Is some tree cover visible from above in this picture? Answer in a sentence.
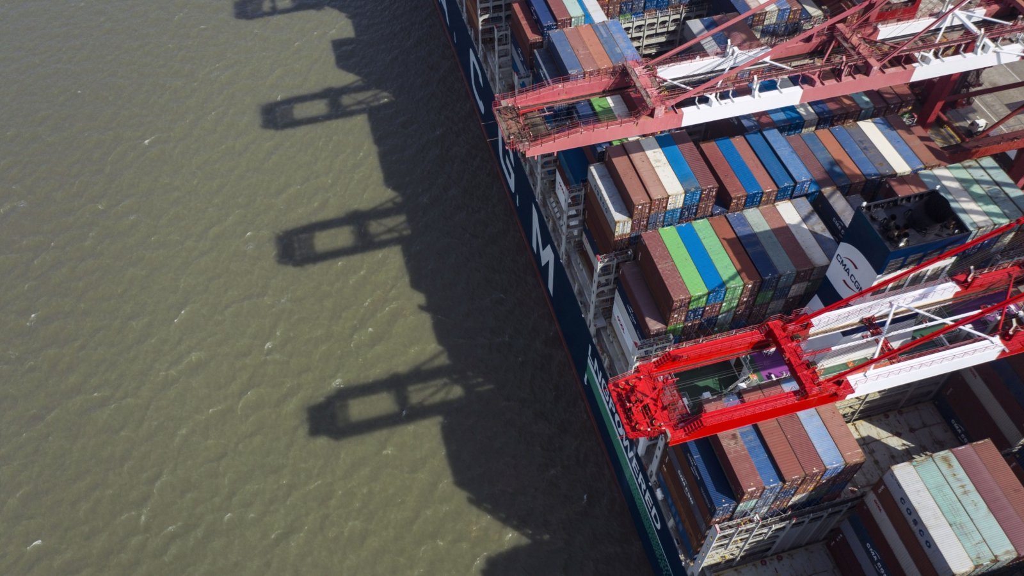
No, the scene doesn't show any tree cover.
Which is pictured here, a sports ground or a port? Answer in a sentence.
What you see here is a port.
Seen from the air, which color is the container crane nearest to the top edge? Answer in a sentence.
The container crane nearest to the top edge is red.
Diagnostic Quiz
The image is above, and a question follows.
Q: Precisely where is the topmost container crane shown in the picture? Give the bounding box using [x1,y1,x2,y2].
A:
[804,0,963,64]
